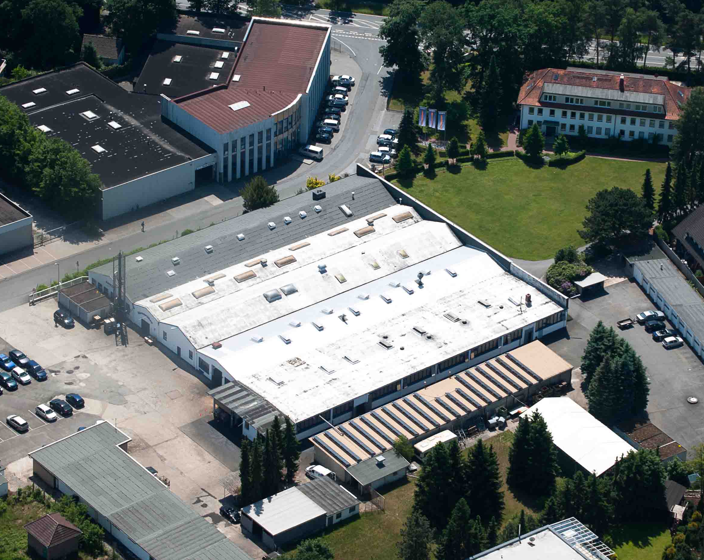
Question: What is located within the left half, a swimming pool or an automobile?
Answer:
automobile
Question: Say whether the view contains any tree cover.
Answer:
Yes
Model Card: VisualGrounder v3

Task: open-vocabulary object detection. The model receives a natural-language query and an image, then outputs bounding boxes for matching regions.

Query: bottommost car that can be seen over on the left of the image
[219,507,242,525]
